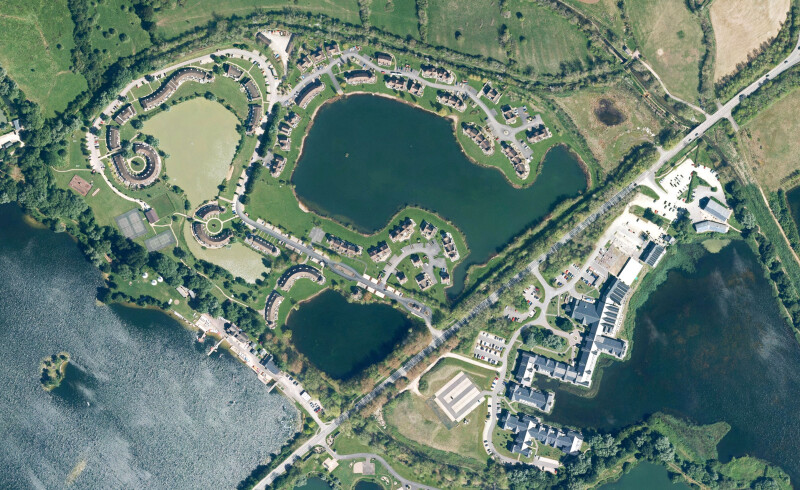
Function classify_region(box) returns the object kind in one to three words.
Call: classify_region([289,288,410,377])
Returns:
pond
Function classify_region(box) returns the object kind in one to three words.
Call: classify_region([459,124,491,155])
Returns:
house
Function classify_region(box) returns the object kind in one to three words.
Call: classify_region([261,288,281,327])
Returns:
building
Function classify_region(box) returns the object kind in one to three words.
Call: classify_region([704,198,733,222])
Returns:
barn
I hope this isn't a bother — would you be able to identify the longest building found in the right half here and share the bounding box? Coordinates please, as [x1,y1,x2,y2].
[516,295,629,388]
